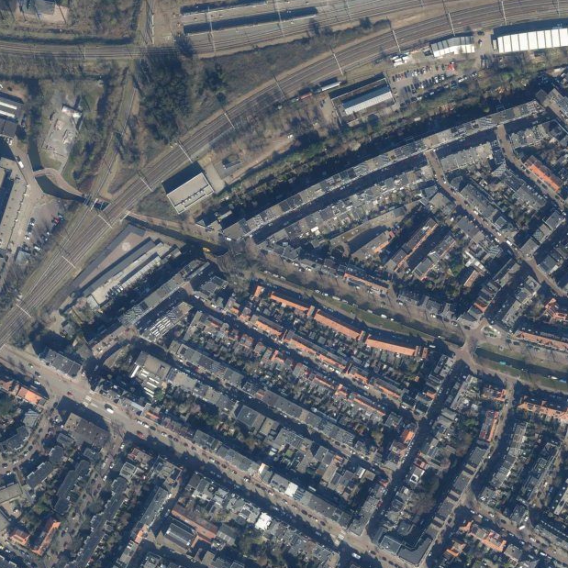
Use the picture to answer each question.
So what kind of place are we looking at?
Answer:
residential area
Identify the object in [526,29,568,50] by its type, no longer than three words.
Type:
shed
